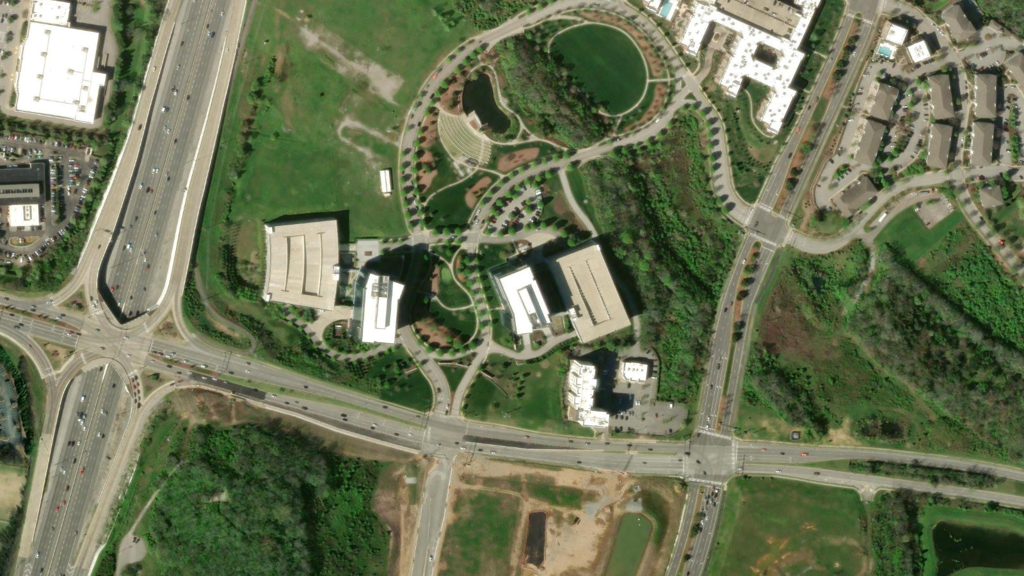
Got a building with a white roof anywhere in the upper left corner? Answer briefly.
Yes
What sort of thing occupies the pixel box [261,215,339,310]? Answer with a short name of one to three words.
building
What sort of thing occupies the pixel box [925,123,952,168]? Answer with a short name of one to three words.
building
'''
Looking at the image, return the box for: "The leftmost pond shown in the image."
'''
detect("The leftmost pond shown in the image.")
[462,74,510,133]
